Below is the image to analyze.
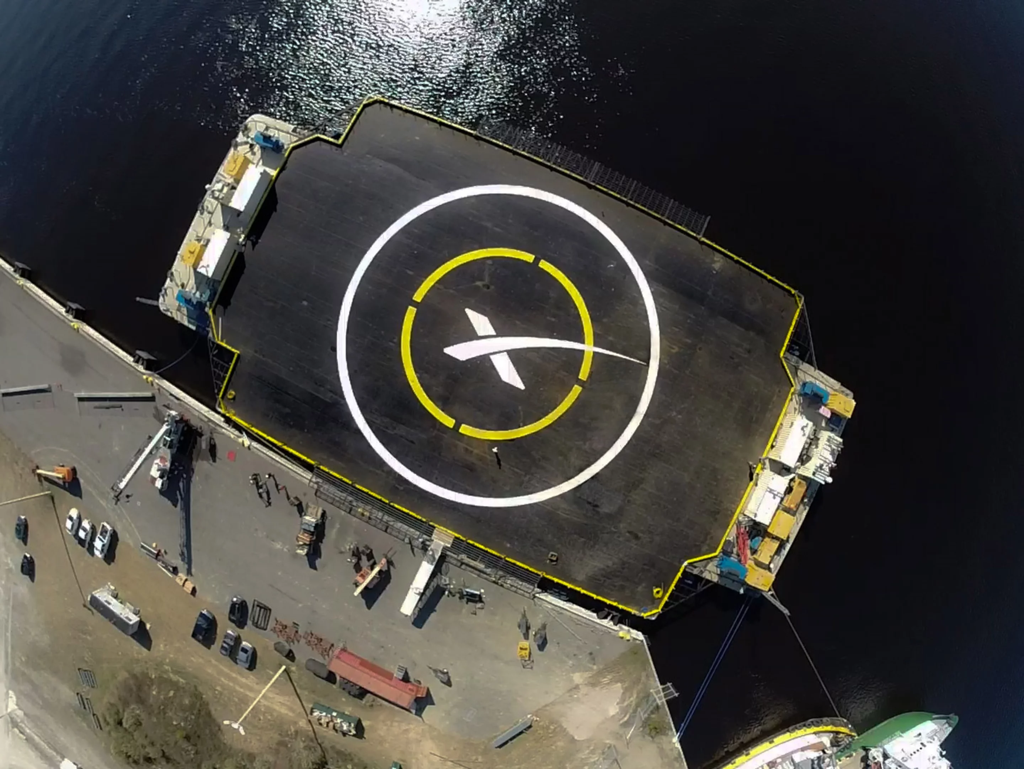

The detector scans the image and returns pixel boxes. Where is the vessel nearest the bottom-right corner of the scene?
[821,711,960,769]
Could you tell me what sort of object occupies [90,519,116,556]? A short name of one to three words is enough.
truck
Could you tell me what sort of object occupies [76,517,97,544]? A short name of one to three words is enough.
car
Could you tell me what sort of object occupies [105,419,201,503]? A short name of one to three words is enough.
truck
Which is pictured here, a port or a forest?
port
